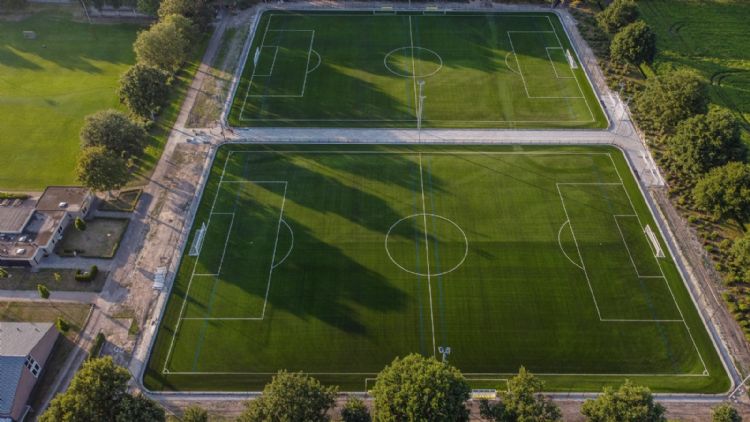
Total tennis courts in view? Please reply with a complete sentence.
No tennis courts are visible.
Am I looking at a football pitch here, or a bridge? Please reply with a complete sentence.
The image shows a football pitch.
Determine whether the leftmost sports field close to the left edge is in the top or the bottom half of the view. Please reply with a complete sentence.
The leftmost sports field close to the left edge is in the top half of the image.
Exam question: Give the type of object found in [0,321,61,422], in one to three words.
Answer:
building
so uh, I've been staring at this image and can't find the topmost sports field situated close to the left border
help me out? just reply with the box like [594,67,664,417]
[0,14,212,187]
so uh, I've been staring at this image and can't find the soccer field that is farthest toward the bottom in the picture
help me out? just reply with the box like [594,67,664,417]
[141,142,732,397]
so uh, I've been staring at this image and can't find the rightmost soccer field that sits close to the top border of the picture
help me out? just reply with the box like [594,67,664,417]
[224,8,609,130]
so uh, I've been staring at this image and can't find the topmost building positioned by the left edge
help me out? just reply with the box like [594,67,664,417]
[0,187,94,270]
